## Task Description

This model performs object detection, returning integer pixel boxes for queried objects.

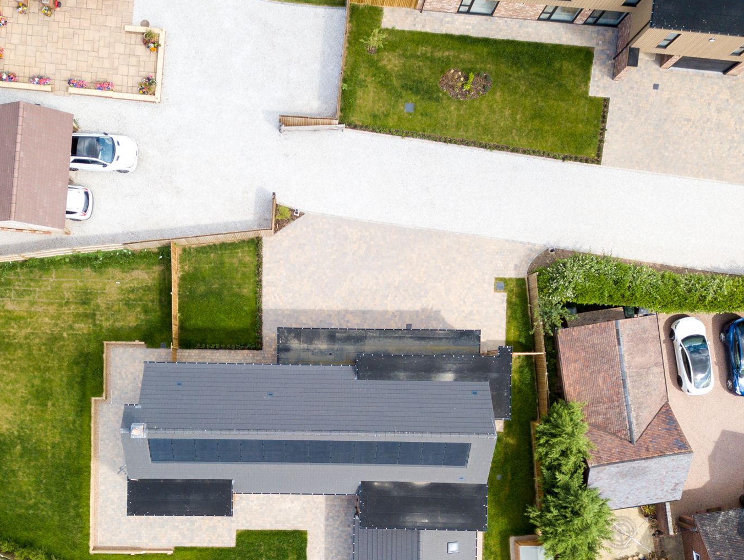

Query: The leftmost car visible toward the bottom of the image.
[670,316,712,397]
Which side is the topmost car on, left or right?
left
